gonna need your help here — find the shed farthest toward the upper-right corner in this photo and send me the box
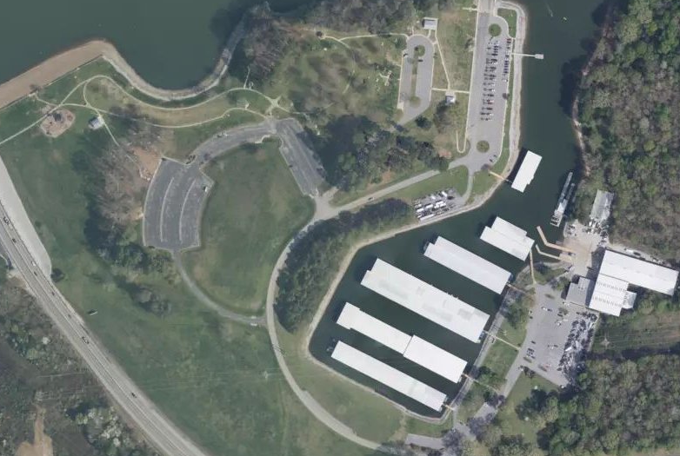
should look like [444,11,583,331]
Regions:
[591,190,614,223]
